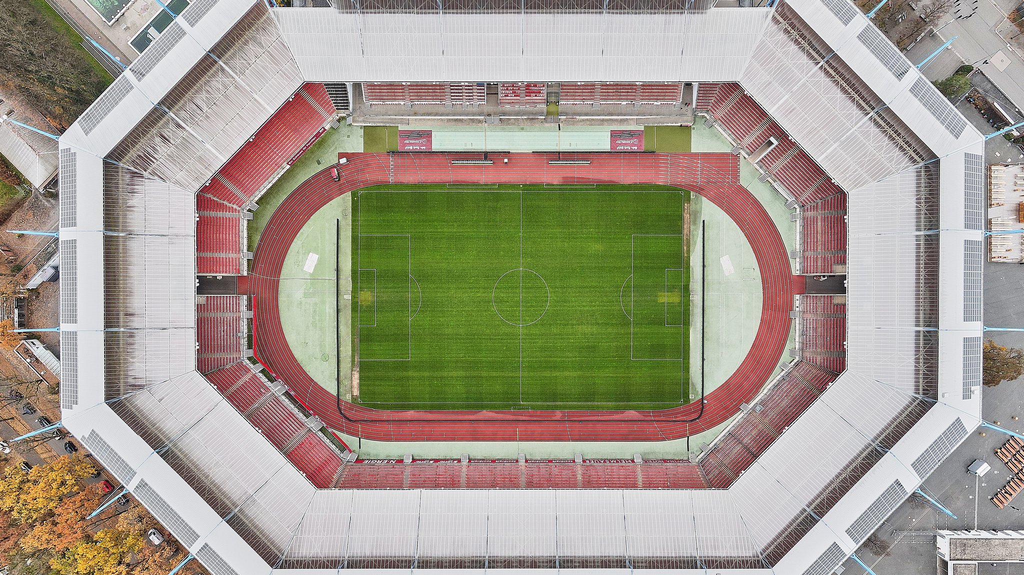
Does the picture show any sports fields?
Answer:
Yes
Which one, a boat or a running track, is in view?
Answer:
running track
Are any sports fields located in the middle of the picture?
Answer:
Yes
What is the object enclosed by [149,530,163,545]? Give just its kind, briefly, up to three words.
vehicle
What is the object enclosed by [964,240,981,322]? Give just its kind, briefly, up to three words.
solar array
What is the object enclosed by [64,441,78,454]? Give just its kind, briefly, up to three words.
vehicle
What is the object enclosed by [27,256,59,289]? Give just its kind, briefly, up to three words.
shed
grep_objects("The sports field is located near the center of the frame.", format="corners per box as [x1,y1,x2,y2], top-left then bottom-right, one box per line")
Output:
[351,183,691,411]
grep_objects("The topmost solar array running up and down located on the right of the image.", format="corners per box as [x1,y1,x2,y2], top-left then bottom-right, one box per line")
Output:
[965,152,982,230]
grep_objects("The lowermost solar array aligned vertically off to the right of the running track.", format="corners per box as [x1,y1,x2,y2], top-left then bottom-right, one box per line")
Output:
[963,337,980,399]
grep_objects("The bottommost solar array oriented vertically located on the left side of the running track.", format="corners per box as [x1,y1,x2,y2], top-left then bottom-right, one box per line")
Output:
[62,331,77,409]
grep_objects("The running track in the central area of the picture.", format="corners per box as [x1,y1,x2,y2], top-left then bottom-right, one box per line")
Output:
[248,153,794,441]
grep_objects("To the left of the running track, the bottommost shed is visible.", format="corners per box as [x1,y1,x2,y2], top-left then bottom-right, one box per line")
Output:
[13,340,60,399]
